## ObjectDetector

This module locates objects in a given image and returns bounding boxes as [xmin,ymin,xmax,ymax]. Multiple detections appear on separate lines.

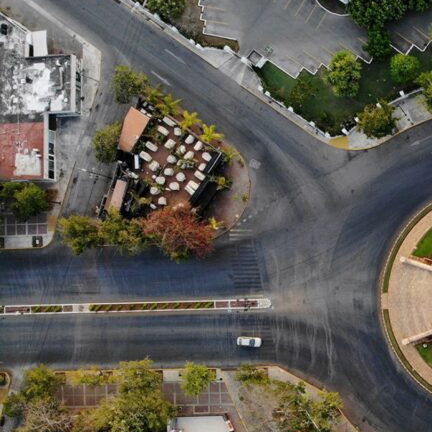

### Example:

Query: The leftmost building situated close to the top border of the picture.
[0,14,88,119]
